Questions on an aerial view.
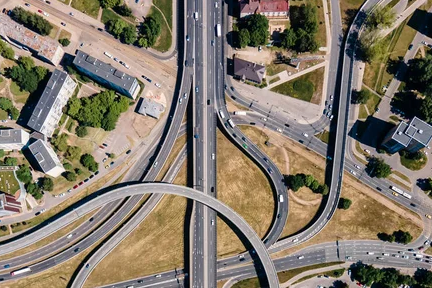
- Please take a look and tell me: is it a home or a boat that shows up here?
home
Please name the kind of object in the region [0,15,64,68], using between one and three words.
building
